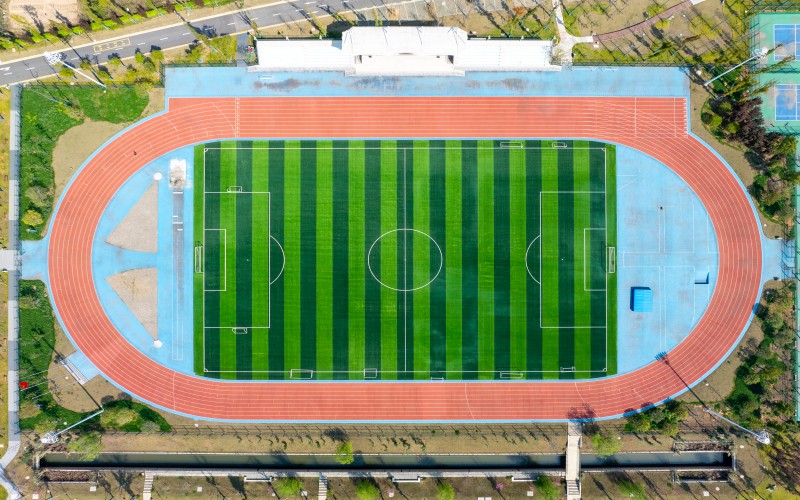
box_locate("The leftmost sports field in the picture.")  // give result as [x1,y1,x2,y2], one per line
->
[93,139,400,380]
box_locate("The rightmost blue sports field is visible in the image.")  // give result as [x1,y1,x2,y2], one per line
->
[400,139,717,380]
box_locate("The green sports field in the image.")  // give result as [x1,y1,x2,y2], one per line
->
[194,141,617,379]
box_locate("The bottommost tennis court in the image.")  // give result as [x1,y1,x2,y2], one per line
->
[775,84,800,121]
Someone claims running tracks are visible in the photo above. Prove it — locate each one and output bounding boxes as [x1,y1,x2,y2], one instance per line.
[44,97,766,422]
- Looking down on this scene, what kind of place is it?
sports ground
